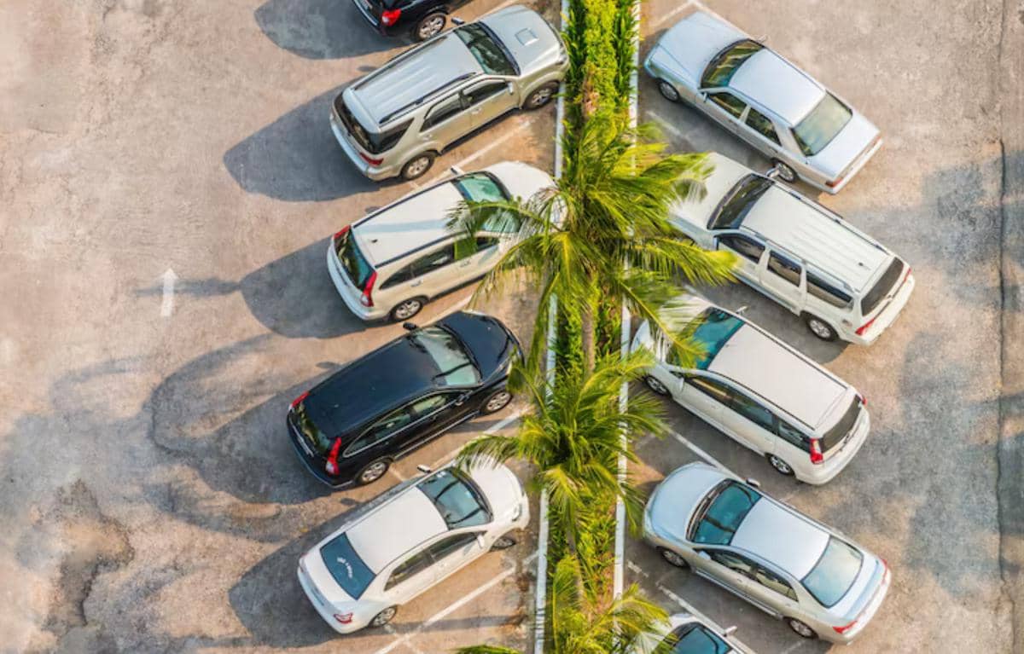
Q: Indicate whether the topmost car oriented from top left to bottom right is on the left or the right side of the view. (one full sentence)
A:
It is on the right.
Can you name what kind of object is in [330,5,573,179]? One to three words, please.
car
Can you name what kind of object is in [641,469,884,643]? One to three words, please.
car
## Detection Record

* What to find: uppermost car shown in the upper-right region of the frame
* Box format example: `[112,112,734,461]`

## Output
[643,9,881,199]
